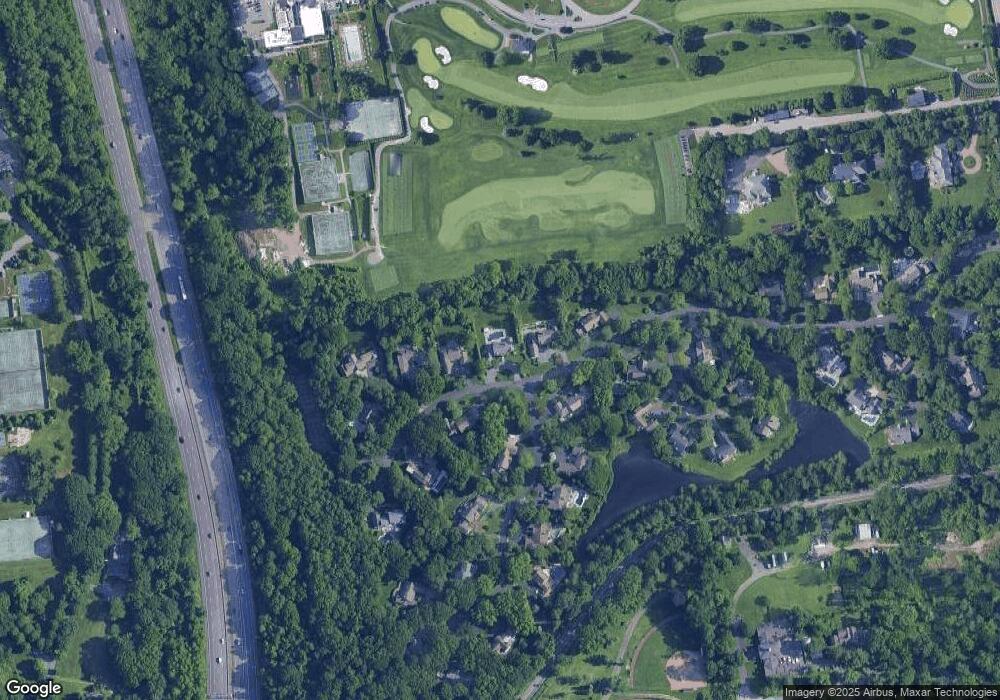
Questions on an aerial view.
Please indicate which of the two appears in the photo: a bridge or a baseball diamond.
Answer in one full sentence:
Looking from above, you can make out a baseball diamond.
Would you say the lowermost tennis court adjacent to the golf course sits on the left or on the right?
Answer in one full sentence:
The lowermost tennis court adjacent to the golf course is on the left side of the image.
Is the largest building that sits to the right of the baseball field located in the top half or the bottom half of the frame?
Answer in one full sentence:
You can find the largest building that sits to the right of the baseball field in the bottom half.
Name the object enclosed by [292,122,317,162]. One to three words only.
sports court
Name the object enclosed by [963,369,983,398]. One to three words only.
house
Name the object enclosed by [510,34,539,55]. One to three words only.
building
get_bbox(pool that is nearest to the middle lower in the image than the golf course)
[484,329,507,344]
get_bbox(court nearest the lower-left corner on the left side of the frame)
[0,516,51,561]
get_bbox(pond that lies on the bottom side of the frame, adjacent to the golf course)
[579,338,867,573]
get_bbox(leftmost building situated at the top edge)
[263,0,324,47]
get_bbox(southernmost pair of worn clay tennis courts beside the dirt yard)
[312,212,353,254]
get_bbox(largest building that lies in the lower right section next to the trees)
[757,625,803,678]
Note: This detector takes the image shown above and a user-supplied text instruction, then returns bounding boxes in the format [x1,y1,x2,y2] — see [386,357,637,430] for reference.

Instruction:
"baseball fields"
[630,593,710,693]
